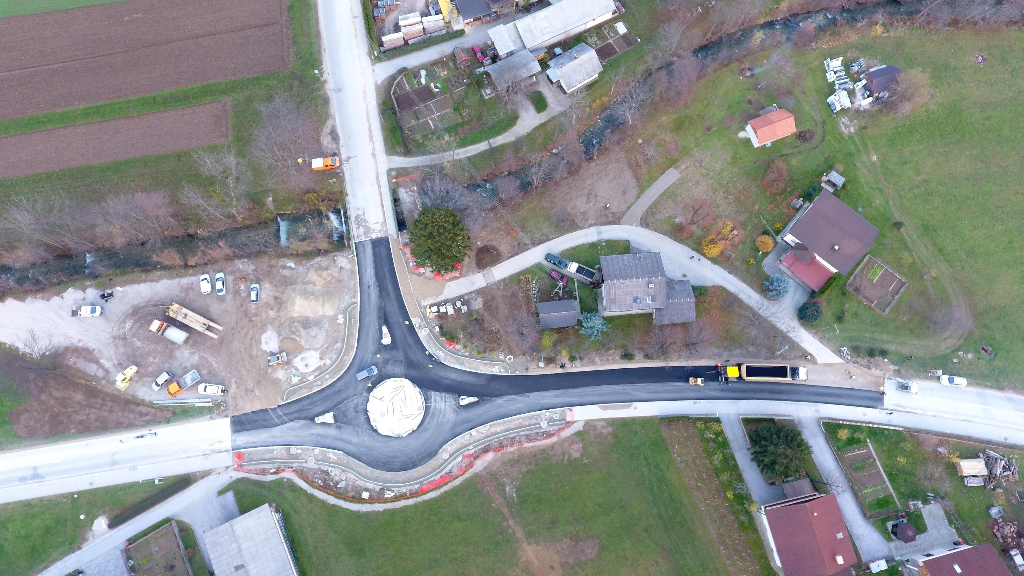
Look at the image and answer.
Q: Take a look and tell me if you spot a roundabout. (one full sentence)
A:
Yes, the image includes a roundabout.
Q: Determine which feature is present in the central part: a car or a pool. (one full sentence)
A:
It is a car that can be seen in the central part.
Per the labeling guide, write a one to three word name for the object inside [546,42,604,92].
house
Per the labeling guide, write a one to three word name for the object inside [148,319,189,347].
truck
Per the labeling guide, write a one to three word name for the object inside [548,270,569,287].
car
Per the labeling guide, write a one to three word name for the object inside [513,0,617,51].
building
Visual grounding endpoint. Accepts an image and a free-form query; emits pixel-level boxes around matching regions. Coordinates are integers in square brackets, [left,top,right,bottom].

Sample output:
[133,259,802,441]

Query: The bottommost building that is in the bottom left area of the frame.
[202,502,297,576]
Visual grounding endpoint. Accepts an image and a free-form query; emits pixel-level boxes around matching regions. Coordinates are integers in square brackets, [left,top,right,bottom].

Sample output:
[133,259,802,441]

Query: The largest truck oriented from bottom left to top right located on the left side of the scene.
[165,368,202,399]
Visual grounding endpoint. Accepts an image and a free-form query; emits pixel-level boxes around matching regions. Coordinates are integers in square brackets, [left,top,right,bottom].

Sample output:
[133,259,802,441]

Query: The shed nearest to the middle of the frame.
[537,299,577,330]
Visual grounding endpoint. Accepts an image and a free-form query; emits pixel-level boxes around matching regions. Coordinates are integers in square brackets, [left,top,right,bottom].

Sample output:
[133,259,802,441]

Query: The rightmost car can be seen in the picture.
[939,373,967,386]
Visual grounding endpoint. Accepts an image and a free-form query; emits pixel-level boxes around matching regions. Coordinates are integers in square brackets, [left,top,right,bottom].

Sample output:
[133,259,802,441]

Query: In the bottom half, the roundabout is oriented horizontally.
[230,236,884,472]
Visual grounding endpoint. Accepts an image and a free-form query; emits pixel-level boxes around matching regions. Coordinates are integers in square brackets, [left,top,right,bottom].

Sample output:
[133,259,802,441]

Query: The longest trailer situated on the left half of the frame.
[163,302,224,341]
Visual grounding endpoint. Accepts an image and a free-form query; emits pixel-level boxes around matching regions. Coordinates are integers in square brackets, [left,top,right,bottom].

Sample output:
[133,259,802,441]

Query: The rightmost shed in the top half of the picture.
[860,64,902,95]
